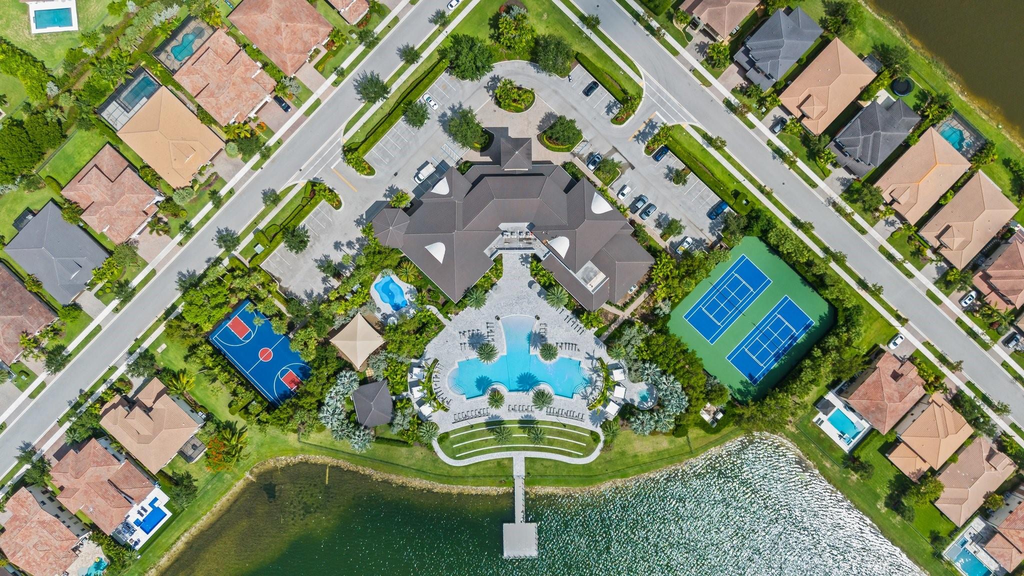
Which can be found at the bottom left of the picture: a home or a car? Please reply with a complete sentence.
It is a home that can be seen at the bottom left of the picture.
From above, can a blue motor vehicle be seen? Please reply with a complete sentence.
Yes, the photo shows a blue motor vehicle.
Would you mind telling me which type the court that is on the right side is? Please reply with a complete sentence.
I'd identify the court that is on the right side as a tennis court.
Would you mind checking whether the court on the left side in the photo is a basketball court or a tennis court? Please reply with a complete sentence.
What you see as the court on the left side is a basketball court.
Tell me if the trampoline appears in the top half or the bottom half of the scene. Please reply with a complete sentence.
The top half of the photo is where the trampoline is.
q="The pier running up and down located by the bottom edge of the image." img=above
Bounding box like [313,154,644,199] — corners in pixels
[503,478,537,559]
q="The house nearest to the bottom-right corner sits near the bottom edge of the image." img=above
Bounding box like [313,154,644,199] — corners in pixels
[979,493,1024,571]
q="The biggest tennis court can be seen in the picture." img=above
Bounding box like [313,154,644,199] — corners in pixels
[667,236,835,404]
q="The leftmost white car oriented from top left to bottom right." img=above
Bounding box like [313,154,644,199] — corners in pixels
[422,93,439,110]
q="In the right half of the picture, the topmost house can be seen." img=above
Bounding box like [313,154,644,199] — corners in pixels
[679,0,761,41]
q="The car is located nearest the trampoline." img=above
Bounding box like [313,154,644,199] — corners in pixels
[772,116,787,133]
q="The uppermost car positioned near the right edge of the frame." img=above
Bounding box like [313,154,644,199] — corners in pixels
[960,291,976,307]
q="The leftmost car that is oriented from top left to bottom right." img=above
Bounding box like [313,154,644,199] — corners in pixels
[274,96,291,112]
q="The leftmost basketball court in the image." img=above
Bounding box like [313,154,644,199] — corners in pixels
[210,297,320,406]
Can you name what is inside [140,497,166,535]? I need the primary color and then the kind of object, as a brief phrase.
blue swimming pool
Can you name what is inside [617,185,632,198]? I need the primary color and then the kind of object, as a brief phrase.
white vehicle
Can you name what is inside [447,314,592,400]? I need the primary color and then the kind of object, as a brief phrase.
blue swimming pool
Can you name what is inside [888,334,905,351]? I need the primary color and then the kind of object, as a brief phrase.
white car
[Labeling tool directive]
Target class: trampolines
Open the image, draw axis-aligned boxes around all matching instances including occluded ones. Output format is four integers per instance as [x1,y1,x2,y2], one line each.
[892,76,918,97]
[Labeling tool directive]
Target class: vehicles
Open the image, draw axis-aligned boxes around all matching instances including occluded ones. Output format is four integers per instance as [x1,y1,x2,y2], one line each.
[641,204,657,220]
[617,185,632,198]
[583,80,599,97]
[422,93,439,110]
[587,154,603,170]
[888,334,905,351]
[960,291,976,307]
[415,159,436,183]
[772,116,787,133]
[709,200,729,220]
[653,145,669,162]
[274,96,291,112]
[631,192,650,212]
[446,0,462,12]
[675,235,694,253]
[1005,333,1021,349]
